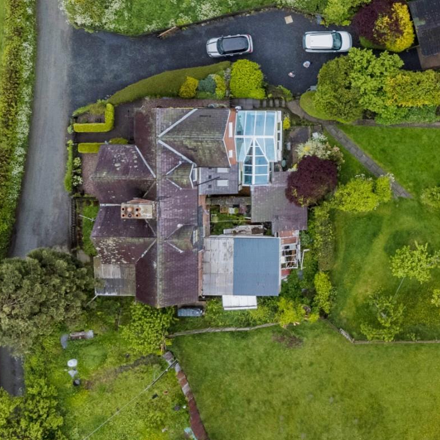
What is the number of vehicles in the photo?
two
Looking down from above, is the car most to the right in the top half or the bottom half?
top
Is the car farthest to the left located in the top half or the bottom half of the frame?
top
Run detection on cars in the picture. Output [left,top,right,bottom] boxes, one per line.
[207,34,255,58]
[304,30,352,53]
